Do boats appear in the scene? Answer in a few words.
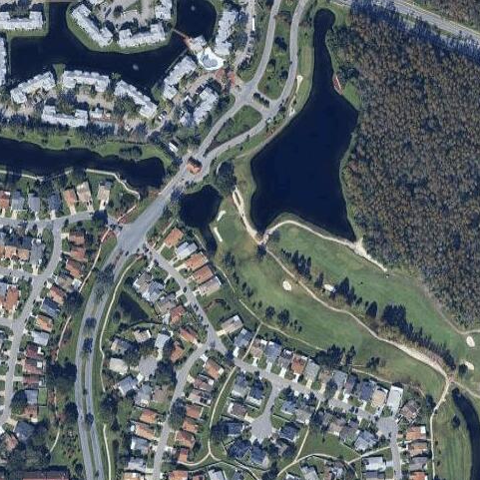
No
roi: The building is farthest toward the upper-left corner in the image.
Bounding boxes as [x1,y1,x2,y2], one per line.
[0,12,43,28]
